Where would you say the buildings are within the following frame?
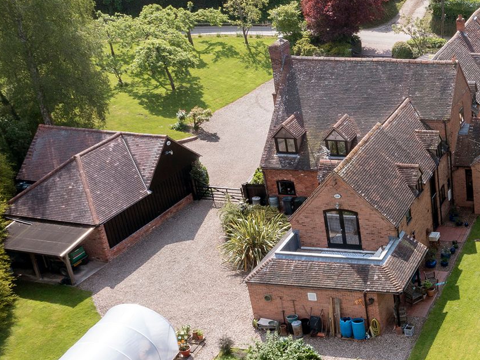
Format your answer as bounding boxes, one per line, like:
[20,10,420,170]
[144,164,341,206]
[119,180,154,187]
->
[238,37,480,334]
[2,122,203,286]
[59,310,177,360]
